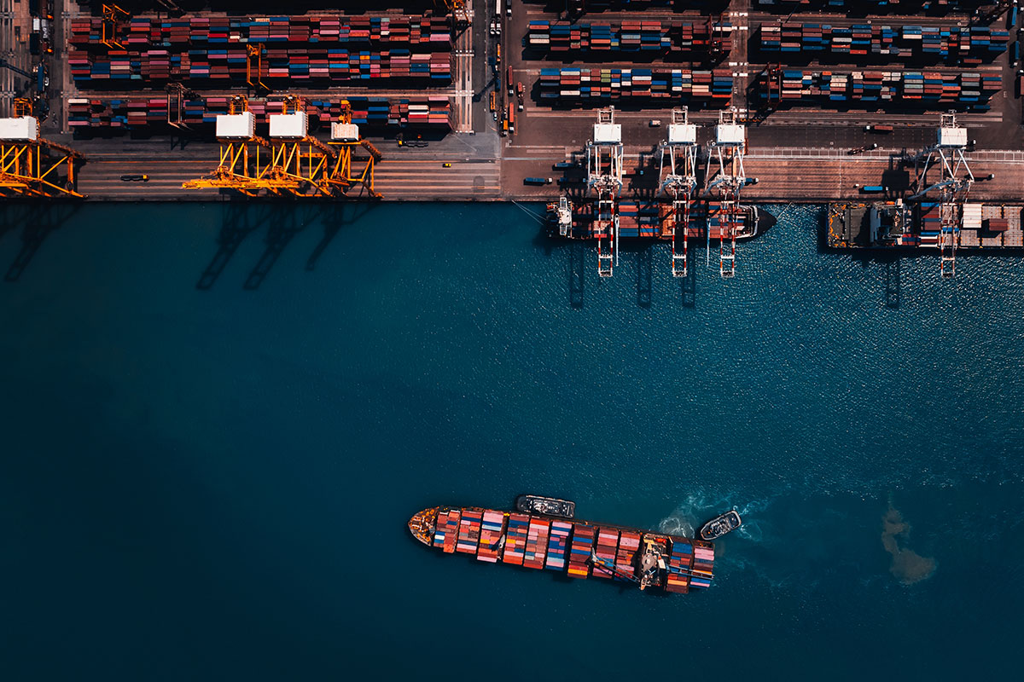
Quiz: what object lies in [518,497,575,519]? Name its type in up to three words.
boat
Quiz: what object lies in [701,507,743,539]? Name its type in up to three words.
boat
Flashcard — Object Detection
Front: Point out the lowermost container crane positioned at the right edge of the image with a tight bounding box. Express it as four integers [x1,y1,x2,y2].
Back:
[896,104,986,280]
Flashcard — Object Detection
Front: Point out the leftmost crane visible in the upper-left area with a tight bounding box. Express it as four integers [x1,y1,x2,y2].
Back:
[0,100,80,195]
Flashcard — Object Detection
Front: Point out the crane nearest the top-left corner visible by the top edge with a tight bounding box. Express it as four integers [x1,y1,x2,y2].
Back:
[101,2,133,51]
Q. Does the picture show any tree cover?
No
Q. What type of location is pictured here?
port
